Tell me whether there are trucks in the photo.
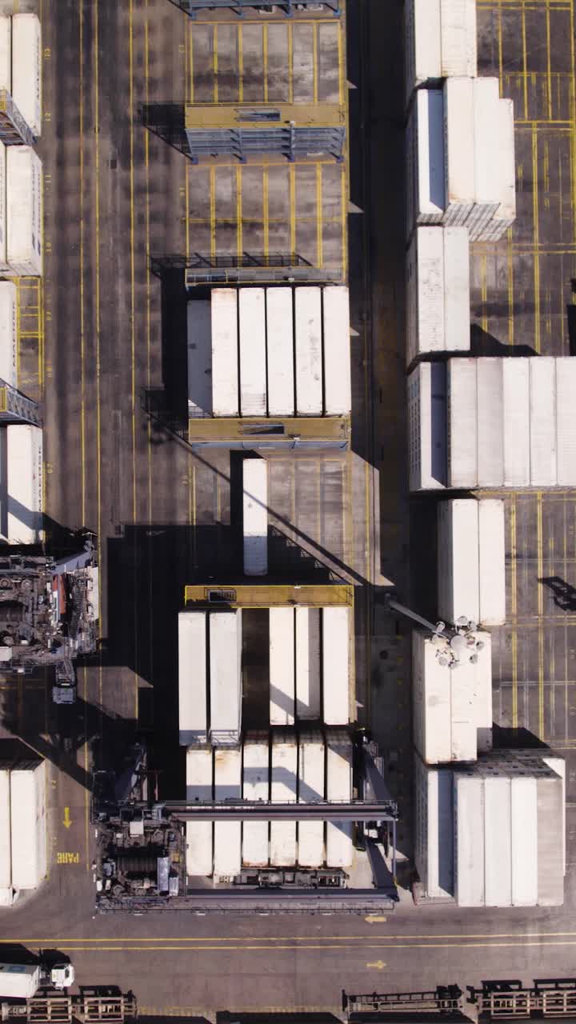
Yes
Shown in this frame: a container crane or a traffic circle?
container crane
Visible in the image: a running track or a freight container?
freight container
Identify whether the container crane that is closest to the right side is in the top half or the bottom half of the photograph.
bottom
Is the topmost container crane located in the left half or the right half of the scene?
left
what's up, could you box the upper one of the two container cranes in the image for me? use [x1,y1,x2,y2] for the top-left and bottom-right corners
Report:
[0,527,102,672]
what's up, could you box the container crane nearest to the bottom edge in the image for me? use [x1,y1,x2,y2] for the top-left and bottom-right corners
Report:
[91,720,403,919]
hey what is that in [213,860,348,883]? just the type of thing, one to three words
trailer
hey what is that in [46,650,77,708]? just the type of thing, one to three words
truck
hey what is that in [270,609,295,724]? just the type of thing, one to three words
shipping container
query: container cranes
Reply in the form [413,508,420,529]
[0,527,102,672]
[91,720,403,919]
